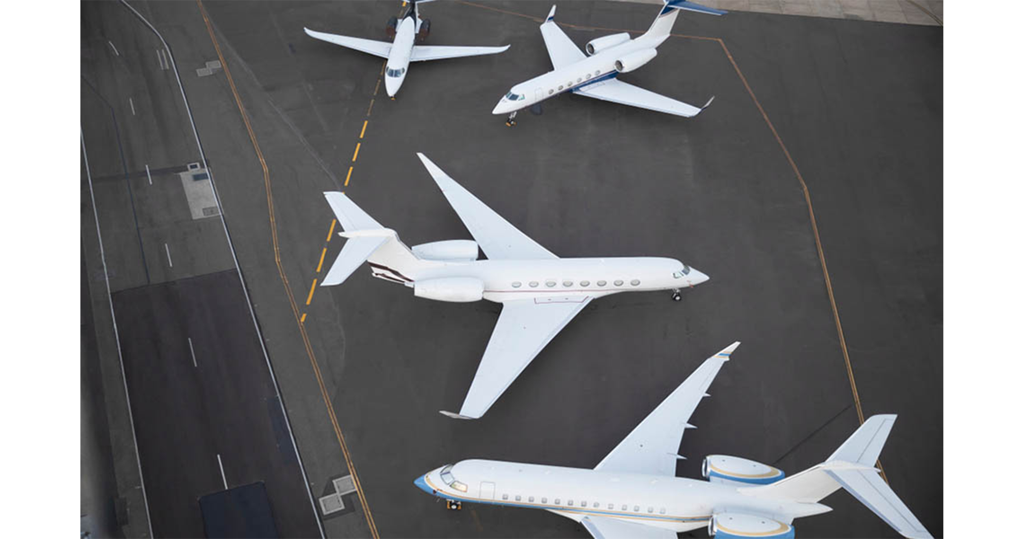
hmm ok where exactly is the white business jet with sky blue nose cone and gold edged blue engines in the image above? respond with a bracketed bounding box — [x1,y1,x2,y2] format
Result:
[413,342,934,539]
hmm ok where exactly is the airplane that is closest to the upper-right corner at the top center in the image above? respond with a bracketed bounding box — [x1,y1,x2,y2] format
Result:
[492,0,729,125]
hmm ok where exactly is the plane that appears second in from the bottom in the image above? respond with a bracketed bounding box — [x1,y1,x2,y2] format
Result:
[321,152,710,421]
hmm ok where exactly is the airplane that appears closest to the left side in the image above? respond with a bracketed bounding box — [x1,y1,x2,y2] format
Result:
[305,0,511,100]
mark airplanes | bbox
[492,0,729,125]
[321,152,710,421]
[305,0,511,100]
[413,342,934,539]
